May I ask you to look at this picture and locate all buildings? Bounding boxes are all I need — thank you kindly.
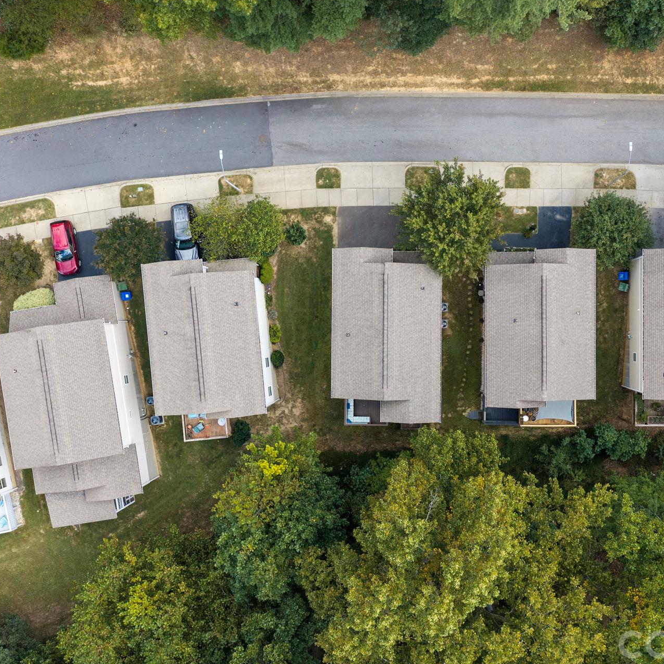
[624,248,664,399]
[479,248,598,409]
[0,274,162,528]
[330,247,443,424]
[139,256,277,419]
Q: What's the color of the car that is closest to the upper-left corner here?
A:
red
